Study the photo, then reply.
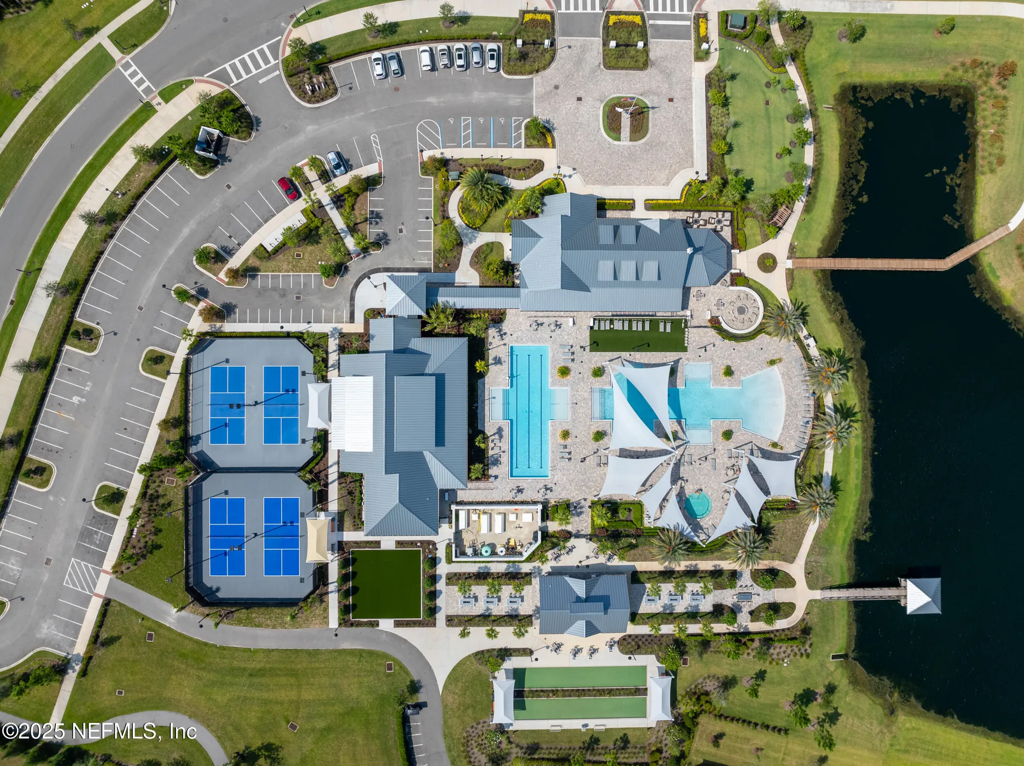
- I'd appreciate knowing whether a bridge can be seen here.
Yes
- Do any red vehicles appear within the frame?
Yes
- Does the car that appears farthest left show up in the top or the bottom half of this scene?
top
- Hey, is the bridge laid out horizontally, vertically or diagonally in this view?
horizontally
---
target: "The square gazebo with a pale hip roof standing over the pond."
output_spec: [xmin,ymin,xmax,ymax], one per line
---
[897,575,942,615]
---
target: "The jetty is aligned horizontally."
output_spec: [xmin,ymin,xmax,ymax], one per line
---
[819,588,905,602]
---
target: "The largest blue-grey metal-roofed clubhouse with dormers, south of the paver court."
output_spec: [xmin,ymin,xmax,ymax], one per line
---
[512,192,727,312]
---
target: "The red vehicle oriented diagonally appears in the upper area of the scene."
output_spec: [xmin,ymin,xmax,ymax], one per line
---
[277,175,299,202]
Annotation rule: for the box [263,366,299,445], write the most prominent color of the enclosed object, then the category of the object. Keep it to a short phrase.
blue sports court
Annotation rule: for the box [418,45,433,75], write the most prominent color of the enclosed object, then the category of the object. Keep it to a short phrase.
white car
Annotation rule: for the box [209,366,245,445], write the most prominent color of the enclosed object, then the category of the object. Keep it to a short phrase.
blue sports court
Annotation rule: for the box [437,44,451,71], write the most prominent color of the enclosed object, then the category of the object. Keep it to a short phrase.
white car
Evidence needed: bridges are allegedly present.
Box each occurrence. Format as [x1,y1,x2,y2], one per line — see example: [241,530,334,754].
[790,222,1017,271]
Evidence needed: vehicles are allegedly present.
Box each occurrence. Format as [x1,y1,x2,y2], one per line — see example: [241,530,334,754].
[327,148,346,178]
[437,44,451,71]
[277,175,299,202]
[418,45,433,75]
[371,52,386,81]
[387,51,402,80]
[407,704,421,716]
[800,332,818,349]
[470,43,483,69]
[453,44,467,73]
[485,44,499,74]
